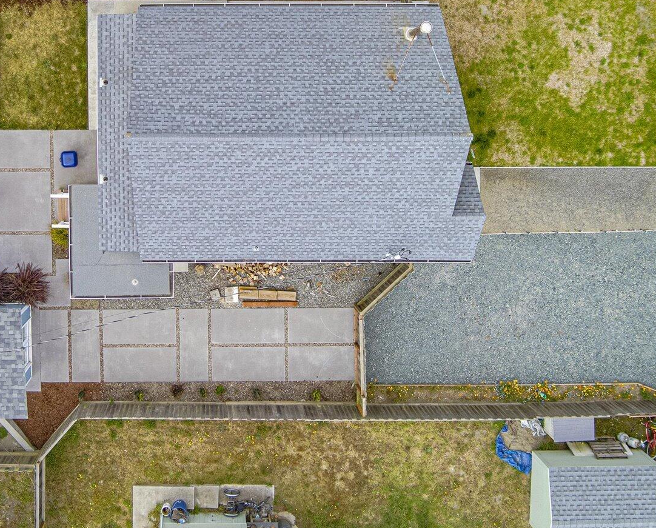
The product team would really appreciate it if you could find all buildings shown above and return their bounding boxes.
[536,416,592,440]
[527,449,656,528]
[156,513,247,528]
[0,292,47,418]
[69,1,483,300]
